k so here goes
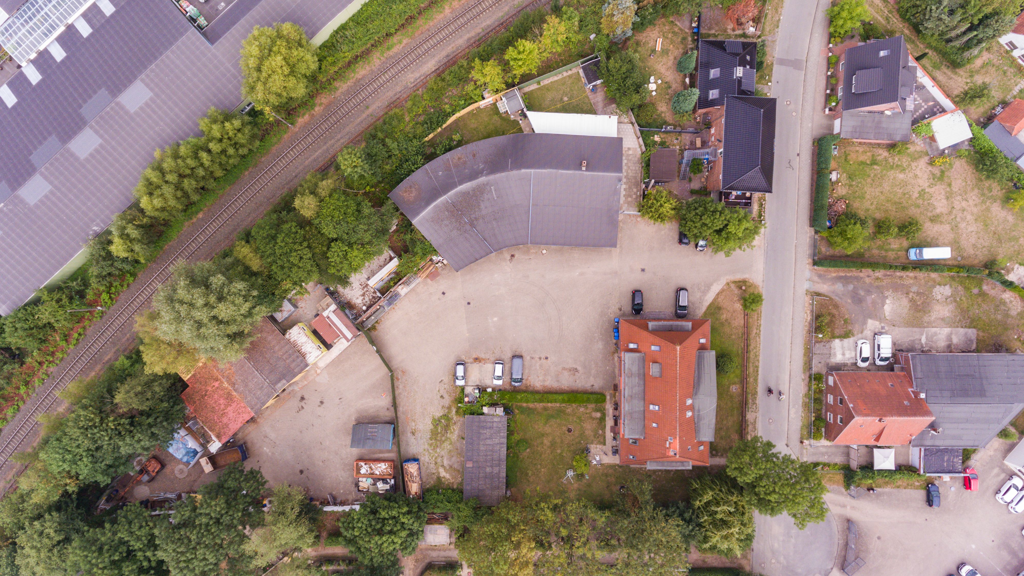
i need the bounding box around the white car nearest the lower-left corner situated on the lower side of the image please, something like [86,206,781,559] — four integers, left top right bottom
[454,361,466,385]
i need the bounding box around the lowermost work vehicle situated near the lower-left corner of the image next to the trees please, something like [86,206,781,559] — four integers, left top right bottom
[116,457,162,501]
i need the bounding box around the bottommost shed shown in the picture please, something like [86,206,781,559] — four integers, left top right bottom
[422,521,450,544]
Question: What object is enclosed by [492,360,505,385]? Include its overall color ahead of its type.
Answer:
white vehicle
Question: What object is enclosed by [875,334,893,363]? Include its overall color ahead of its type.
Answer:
white vehicle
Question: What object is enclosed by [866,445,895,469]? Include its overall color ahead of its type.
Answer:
white gazebo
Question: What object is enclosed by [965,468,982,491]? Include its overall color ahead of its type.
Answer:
red car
